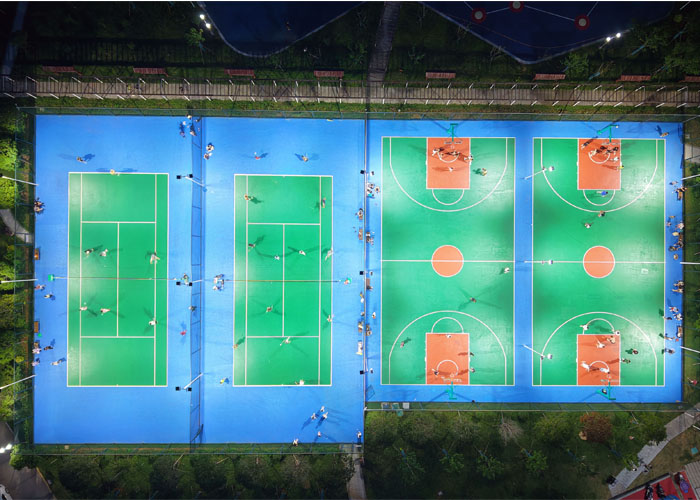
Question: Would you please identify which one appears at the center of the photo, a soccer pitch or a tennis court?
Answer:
tennis court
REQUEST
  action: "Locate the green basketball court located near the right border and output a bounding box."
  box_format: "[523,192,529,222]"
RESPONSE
[533,137,665,386]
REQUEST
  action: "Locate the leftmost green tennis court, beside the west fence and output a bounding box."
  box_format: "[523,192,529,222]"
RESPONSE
[68,173,167,386]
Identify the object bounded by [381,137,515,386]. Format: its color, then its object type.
green basketball court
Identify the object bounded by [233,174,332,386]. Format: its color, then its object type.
green tennis court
